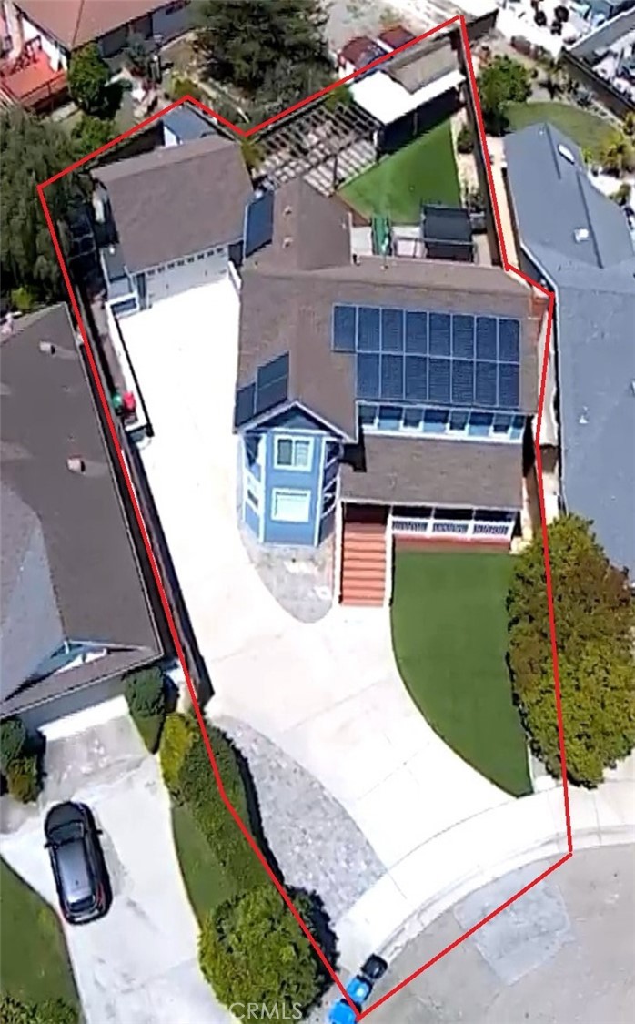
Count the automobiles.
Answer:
1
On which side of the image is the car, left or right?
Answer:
left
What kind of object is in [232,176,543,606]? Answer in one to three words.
house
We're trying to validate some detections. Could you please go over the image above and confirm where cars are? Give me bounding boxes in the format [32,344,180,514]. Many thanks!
[41,808,109,923]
